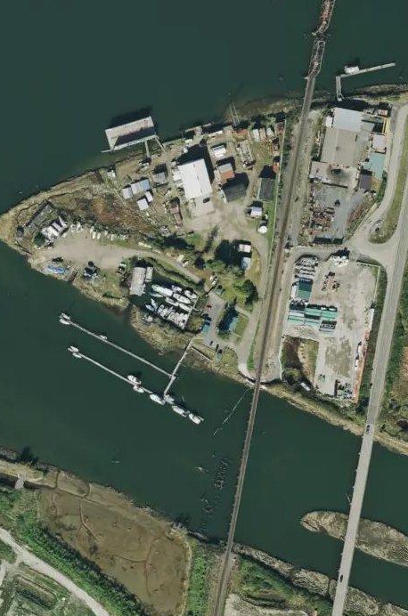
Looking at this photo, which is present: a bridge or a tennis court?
bridge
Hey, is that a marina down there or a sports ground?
marina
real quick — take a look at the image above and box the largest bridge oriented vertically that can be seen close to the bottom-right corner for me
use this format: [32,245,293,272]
[332,429,375,615]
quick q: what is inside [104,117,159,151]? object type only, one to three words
building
